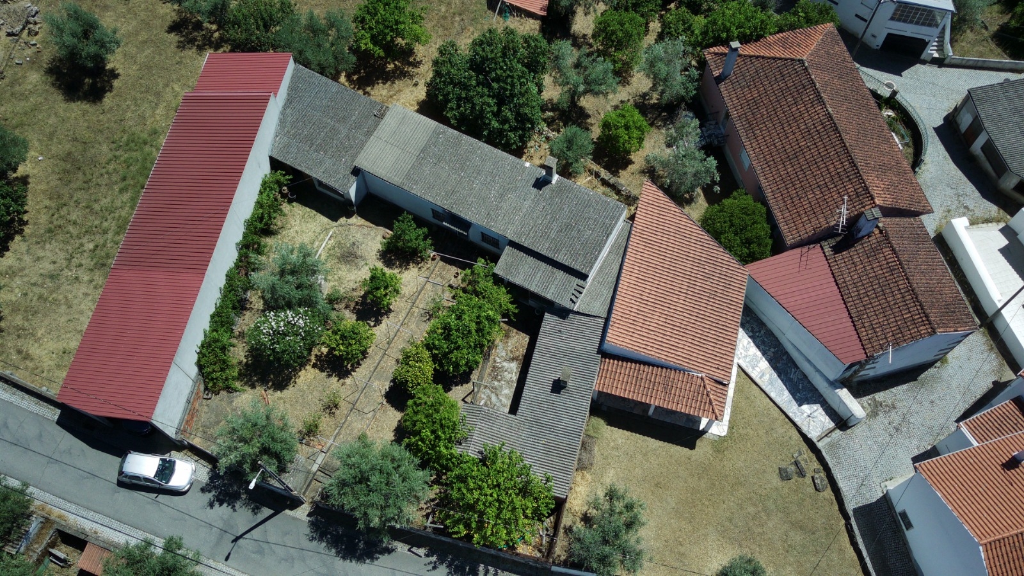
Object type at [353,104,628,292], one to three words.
house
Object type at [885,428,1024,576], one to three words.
house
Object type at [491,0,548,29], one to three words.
shed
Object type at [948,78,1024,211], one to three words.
barn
